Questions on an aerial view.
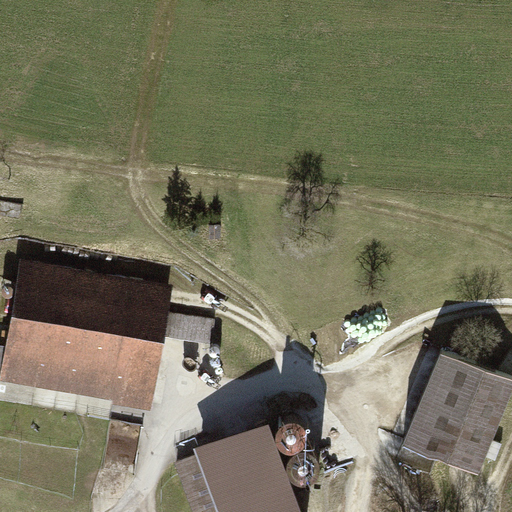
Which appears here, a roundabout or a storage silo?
storage silo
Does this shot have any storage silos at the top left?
No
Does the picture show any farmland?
Yes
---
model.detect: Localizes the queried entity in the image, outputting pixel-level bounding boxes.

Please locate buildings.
[167,312,215,344]
[402,354,512,474]
[175,426,300,512]
[209,224,220,240]
[0,200,21,218]
[0,259,172,410]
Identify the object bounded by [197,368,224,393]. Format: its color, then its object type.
white work vehicle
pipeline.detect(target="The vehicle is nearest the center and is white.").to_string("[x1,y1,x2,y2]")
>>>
[200,290,230,313]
